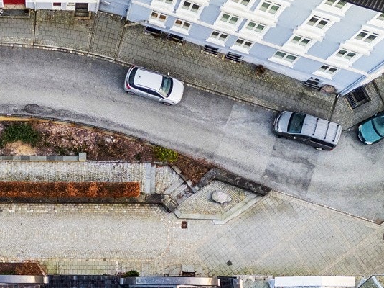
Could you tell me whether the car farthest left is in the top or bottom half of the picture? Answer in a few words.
top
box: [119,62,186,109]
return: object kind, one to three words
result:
car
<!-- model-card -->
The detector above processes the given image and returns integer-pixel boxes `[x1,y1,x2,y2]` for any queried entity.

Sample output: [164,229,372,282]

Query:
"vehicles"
[271,106,349,152]
[355,110,384,146]
[119,62,186,109]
